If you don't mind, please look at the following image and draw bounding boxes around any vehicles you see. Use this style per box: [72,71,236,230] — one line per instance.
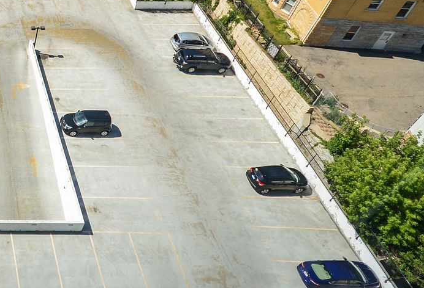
[171,45,233,70]
[60,109,114,137]
[244,164,310,194]
[165,28,219,50]
[292,257,387,288]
